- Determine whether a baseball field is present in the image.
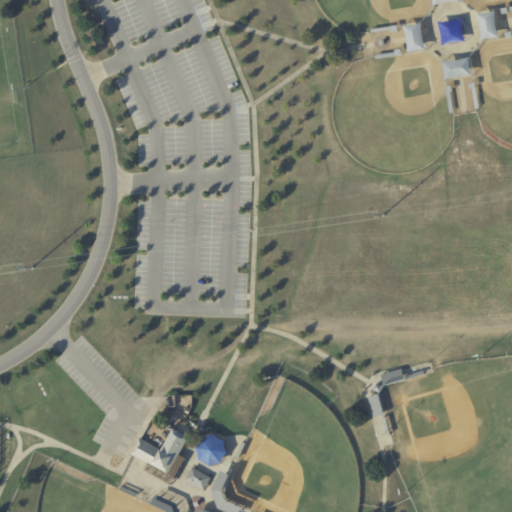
Yes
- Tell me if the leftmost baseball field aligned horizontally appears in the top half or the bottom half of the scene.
bottom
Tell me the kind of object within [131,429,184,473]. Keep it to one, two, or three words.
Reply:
building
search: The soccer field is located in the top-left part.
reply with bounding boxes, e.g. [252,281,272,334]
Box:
[0,0,33,158]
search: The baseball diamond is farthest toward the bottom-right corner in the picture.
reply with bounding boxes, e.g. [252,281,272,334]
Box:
[388,356,512,512]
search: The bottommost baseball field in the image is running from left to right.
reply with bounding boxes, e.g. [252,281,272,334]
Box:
[38,462,164,512]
